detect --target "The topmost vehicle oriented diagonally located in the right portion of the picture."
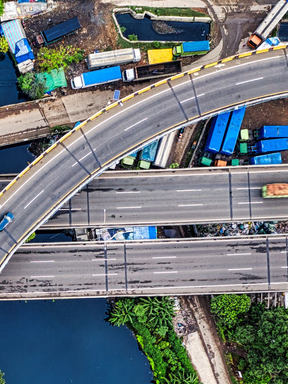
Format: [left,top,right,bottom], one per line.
[241,0,288,50]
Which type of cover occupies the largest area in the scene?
paved ground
